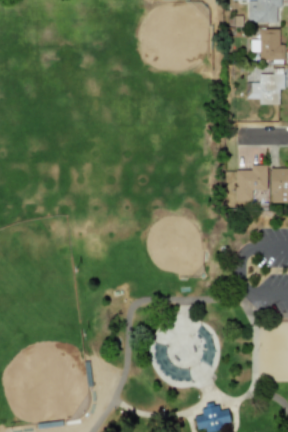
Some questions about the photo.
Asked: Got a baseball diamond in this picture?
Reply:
Yes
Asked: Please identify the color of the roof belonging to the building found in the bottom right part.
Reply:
blue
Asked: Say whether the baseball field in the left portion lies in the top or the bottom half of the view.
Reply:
bottom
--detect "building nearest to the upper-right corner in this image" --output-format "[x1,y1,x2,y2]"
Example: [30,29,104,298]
[250,0,284,24]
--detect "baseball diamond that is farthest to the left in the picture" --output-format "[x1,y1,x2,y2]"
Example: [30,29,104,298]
[0,215,90,424]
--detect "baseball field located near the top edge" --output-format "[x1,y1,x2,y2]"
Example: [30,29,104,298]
[139,0,214,72]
